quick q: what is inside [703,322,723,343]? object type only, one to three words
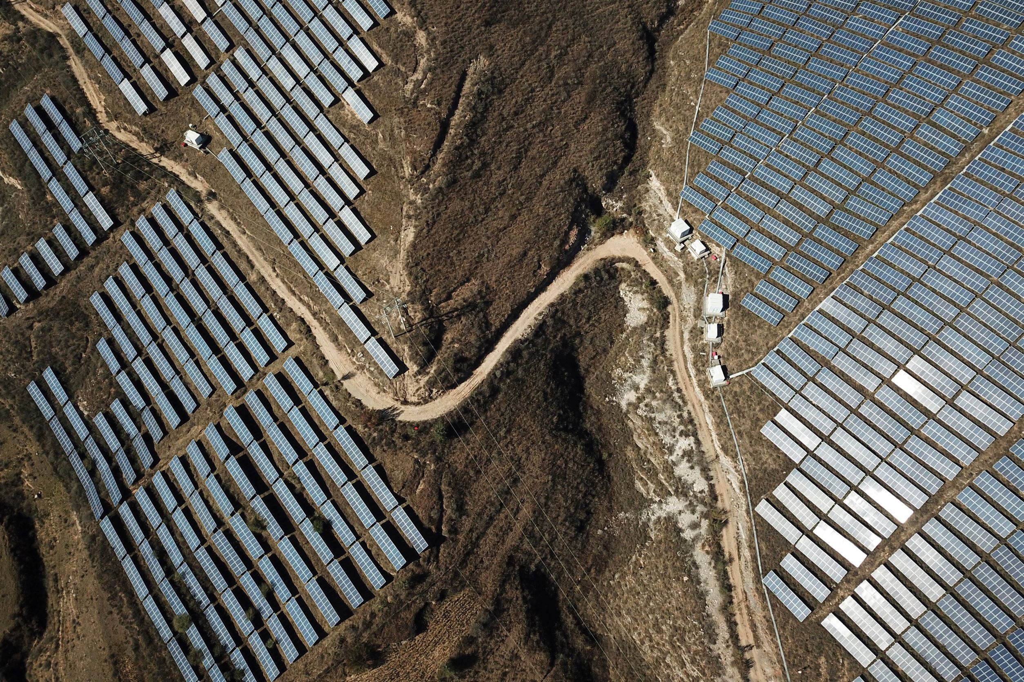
building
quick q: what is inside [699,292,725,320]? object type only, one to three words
building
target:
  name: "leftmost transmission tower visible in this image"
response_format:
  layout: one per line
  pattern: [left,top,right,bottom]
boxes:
[78,128,117,172]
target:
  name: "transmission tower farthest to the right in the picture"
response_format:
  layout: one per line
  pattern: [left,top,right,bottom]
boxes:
[378,298,406,338]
